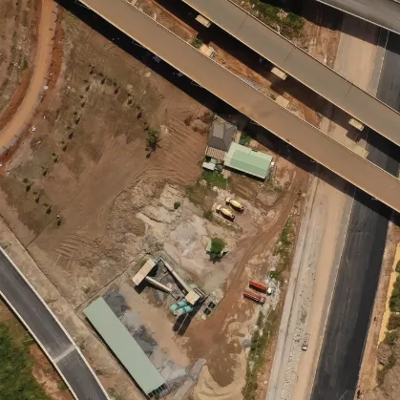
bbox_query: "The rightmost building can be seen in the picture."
[225,142,275,178]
